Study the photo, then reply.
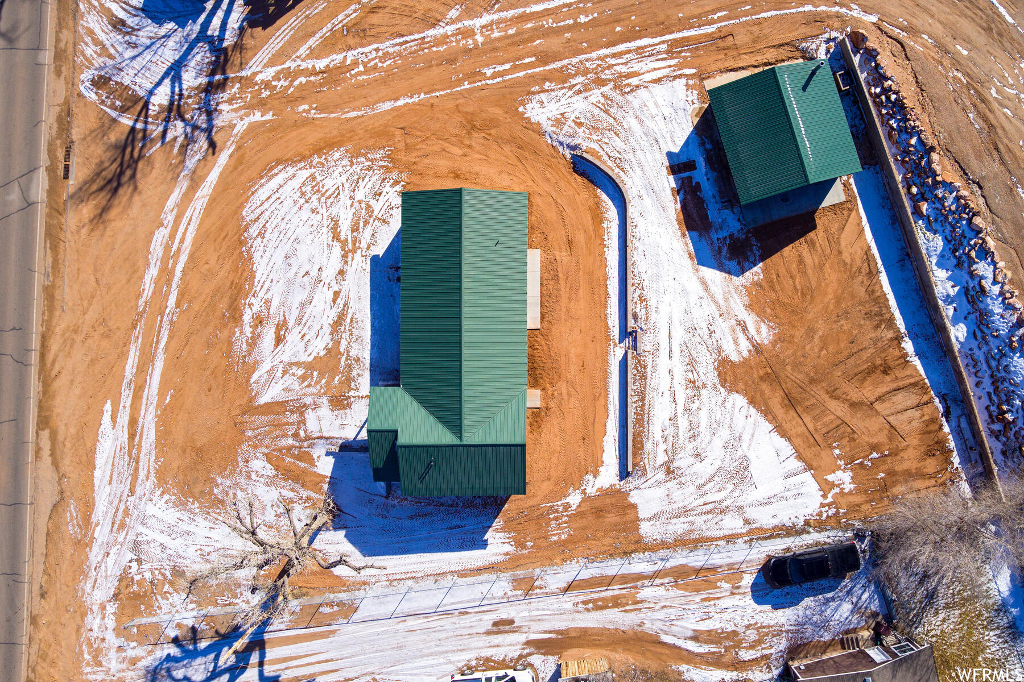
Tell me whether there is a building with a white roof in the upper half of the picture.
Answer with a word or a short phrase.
No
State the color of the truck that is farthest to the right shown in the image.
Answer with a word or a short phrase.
black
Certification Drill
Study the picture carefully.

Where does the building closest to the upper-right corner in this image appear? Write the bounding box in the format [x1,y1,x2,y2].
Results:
[705,55,861,208]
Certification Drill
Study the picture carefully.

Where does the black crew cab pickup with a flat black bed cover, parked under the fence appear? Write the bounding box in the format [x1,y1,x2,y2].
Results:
[761,540,862,592]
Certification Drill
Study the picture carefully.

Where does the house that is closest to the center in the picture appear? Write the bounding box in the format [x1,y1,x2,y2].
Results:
[364,185,530,496]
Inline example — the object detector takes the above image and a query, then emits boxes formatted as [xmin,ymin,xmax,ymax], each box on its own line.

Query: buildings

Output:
[364,185,530,496]
[784,631,942,682]
[560,657,612,682]
[705,55,861,208]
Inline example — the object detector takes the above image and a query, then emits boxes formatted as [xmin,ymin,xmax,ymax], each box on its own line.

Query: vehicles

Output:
[447,664,539,682]
[761,540,862,592]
